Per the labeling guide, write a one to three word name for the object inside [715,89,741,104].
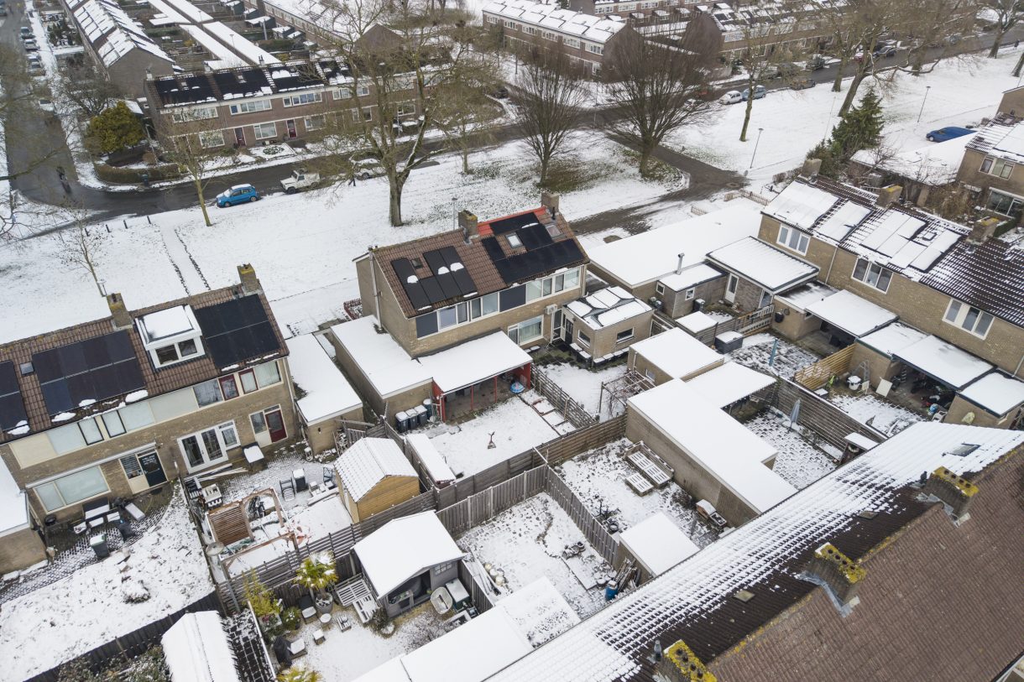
car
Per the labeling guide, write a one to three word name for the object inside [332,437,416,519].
shed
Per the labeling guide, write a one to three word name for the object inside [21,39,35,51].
vehicle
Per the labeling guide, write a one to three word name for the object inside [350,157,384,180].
car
